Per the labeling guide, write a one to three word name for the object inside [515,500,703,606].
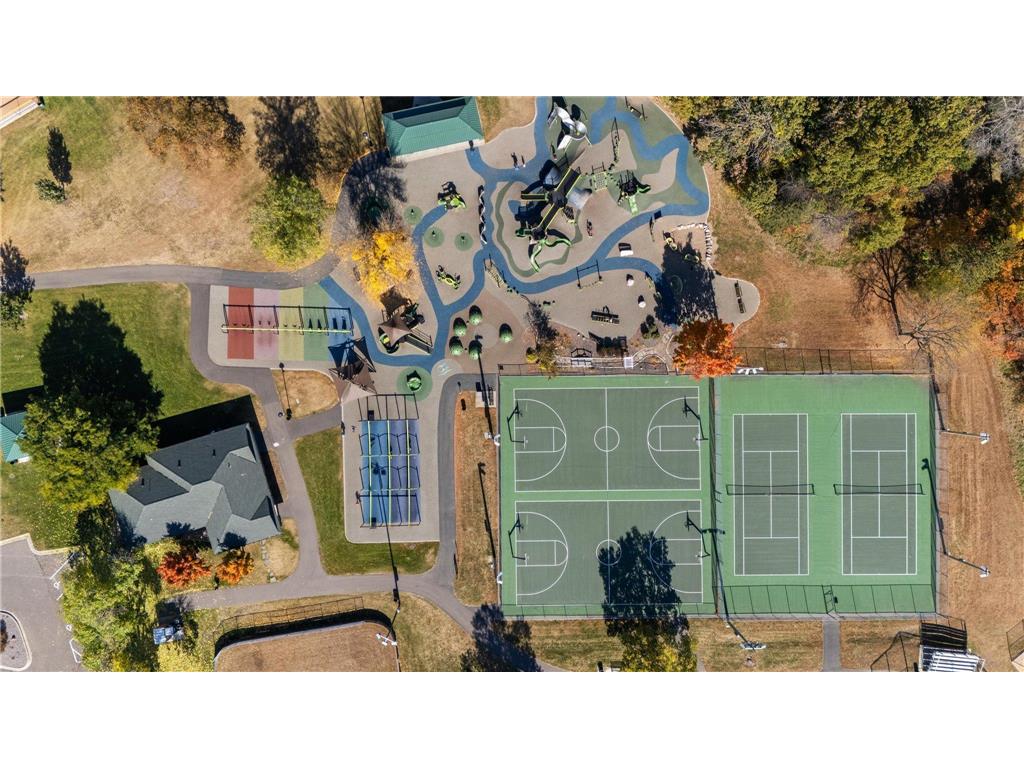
basketball court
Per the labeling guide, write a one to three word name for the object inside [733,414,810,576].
tennis court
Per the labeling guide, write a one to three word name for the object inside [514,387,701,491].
basketball court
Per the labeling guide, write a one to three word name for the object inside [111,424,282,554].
house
